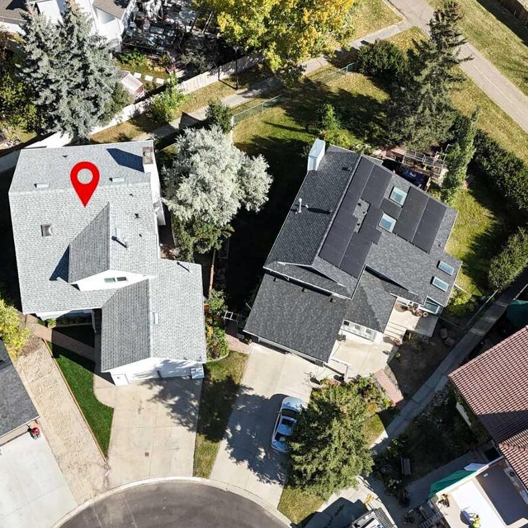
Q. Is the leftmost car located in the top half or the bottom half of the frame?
bottom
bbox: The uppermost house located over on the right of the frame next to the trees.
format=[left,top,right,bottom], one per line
[242,138,463,374]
